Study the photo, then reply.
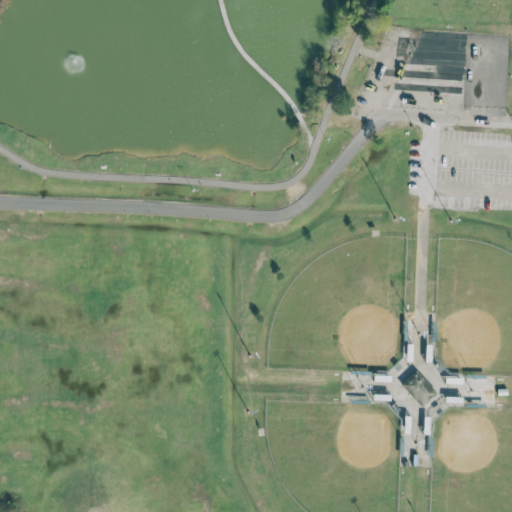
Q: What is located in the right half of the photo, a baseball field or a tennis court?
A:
baseball field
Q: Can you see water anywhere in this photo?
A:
Yes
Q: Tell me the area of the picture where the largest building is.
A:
bottom right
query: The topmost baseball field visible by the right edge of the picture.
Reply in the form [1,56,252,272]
[437,238,512,376]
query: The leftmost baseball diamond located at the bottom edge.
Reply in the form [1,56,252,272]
[266,400,401,512]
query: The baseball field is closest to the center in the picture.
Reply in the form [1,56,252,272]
[268,236,406,372]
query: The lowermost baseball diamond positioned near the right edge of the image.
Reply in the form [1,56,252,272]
[430,404,512,512]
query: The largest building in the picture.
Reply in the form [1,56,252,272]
[404,370,437,405]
